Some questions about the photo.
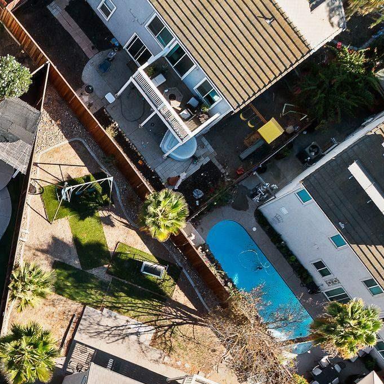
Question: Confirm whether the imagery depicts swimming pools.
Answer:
Yes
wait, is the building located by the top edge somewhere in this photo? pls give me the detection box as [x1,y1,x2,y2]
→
[88,0,348,137]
